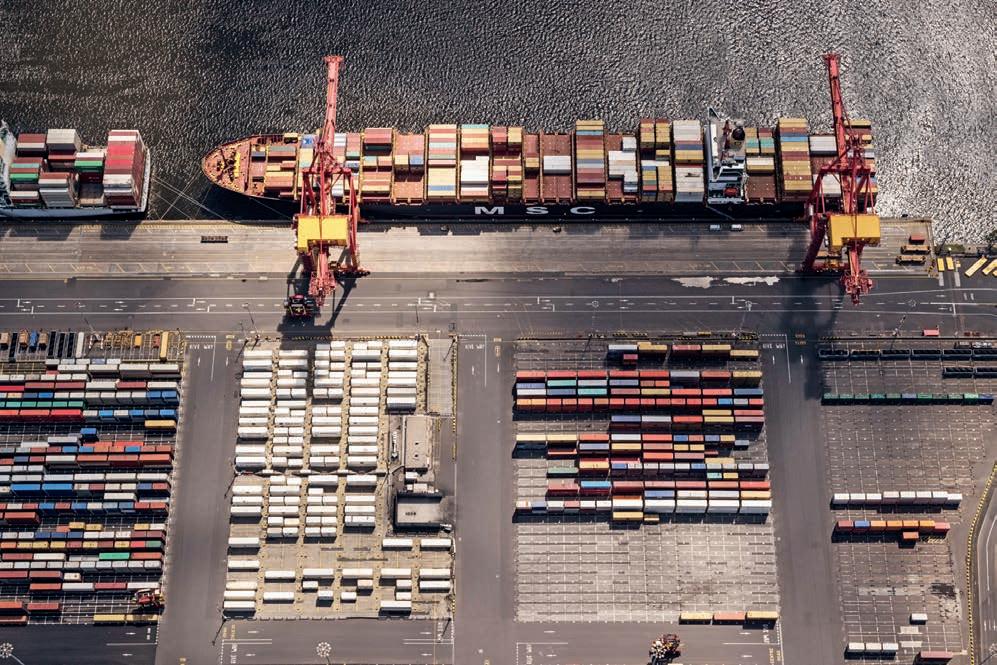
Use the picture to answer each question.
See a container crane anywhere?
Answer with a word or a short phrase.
Yes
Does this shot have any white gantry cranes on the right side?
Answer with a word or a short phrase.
No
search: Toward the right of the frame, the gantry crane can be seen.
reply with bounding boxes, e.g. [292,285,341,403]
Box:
[793,55,880,312]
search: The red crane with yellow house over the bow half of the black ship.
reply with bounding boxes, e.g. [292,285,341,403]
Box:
[292,55,372,312]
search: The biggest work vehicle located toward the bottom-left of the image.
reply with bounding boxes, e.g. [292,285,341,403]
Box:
[133,590,166,611]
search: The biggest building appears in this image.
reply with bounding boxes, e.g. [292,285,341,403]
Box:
[404,417,430,471]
